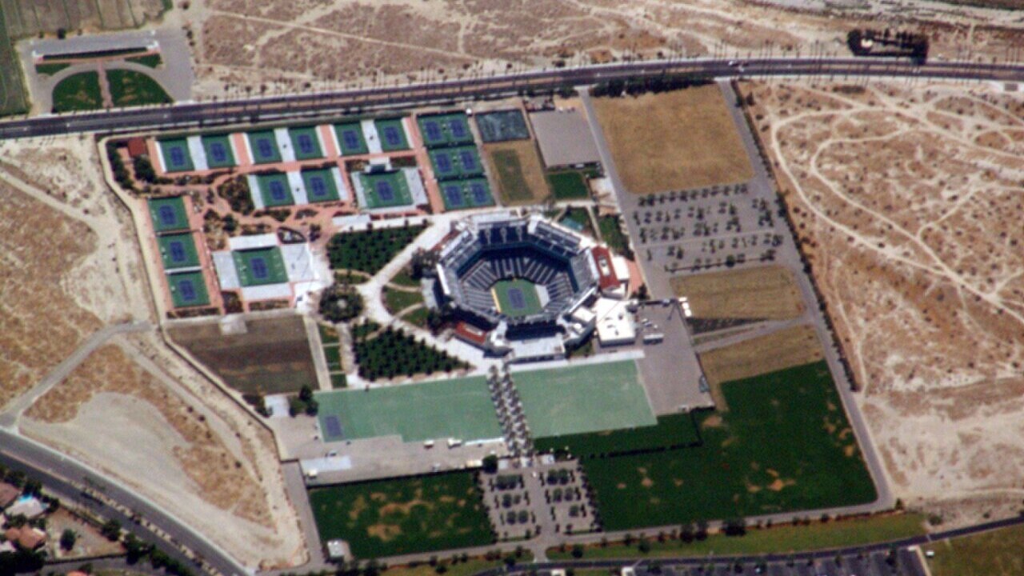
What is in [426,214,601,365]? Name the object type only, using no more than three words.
stadium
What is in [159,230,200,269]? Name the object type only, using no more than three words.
tennis court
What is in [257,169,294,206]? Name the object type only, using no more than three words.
tennis court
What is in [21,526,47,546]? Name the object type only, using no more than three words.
house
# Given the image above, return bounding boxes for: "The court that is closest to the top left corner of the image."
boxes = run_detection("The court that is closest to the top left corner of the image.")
[160,135,194,172]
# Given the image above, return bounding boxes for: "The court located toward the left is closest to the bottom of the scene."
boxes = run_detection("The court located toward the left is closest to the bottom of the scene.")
[319,412,345,440]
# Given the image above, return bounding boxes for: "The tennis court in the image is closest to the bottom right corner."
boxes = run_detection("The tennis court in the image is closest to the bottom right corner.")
[493,277,551,315]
